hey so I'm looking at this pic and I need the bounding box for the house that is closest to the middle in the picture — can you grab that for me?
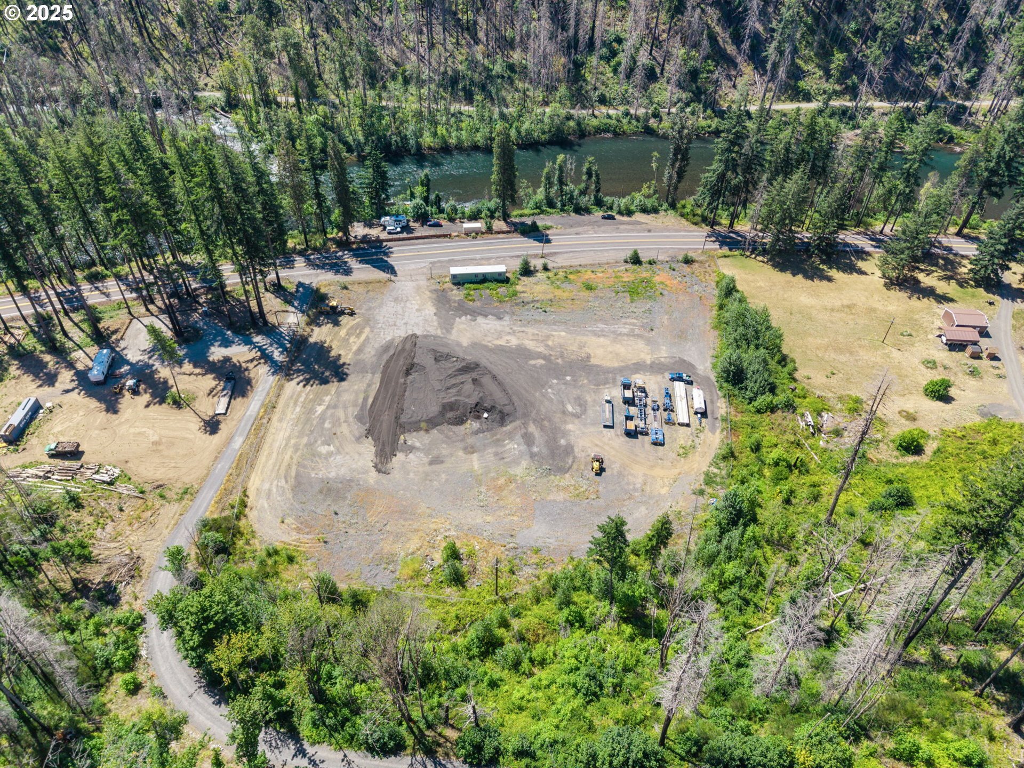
[450,269,508,290]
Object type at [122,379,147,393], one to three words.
work vehicle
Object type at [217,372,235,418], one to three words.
vehicle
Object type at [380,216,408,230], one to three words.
camper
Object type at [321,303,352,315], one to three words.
vehicle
